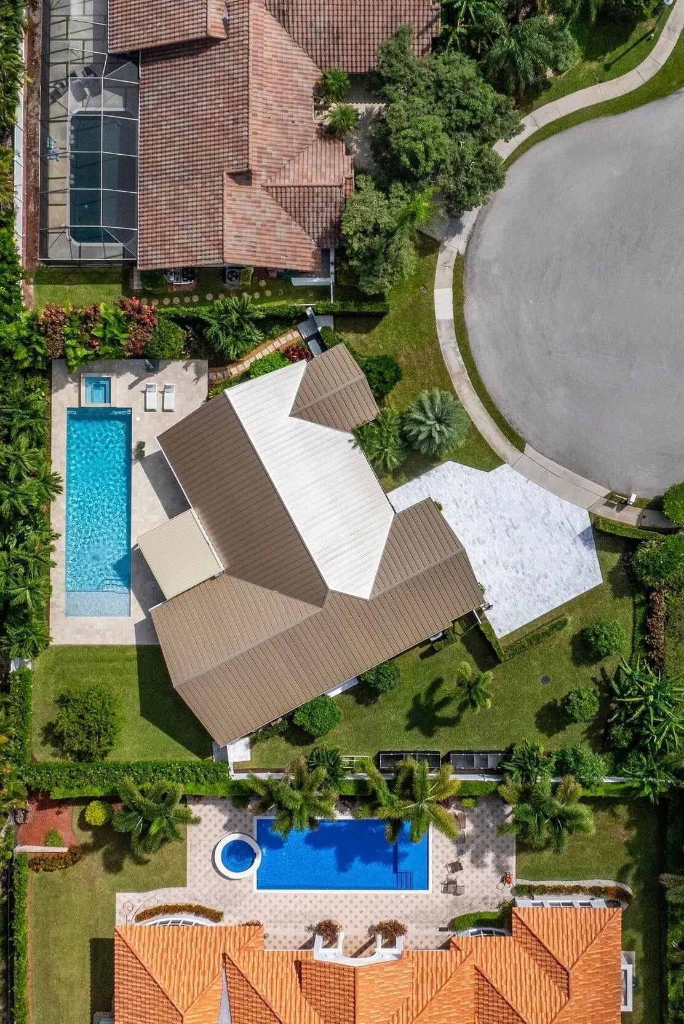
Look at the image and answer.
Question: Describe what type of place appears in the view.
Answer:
residential area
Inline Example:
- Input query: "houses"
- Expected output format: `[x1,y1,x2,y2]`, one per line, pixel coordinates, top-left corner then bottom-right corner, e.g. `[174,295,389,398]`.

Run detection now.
[135,343,491,762]
[107,0,440,271]
[114,892,623,1024]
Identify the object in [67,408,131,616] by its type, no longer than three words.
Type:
swimming pool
